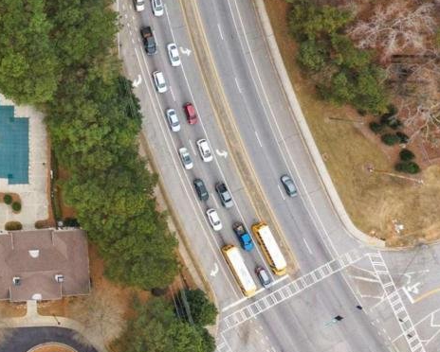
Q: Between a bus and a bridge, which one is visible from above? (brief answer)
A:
bus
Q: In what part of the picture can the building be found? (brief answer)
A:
bottom left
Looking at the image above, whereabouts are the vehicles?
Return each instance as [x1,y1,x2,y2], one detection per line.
[196,138,211,162]
[253,264,271,289]
[219,242,257,298]
[178,145,193,170]
[132,0,144,12]
[139,26,157,54]
[164,108,180,132]
[213,180,233,209]
[279,173,297,198]
[166,42,181,67]
[151,69,167,93]
[206,208,221,231]
[249,220,288,275]
[232,221,252,250]
[181,101,198,124]
[150,0,163,17]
